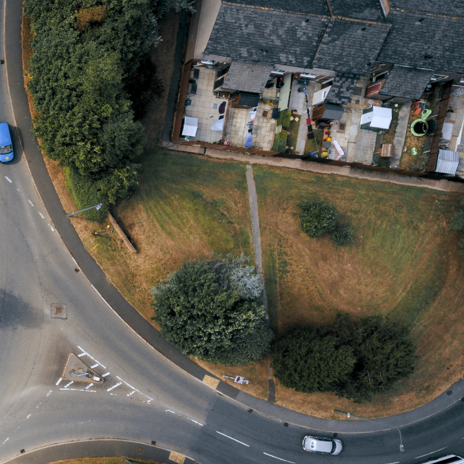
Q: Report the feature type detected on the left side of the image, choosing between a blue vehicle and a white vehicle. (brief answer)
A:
blue vehicle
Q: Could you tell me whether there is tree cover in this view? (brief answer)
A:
Yes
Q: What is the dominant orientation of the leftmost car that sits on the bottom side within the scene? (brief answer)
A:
horizontally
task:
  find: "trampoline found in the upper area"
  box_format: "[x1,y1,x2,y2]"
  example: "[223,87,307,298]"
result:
[409,120,428,136]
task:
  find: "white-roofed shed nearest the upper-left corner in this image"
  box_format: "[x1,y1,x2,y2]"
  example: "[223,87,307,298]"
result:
[178,116,199,139]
